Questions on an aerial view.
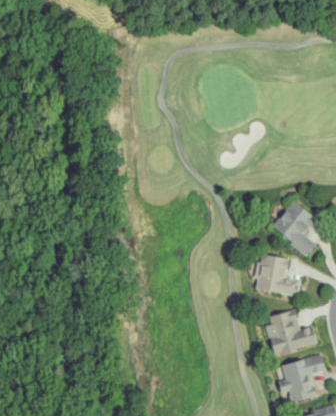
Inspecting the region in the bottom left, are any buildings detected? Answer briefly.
No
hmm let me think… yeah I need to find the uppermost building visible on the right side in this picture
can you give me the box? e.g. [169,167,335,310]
[275,202,318,256]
